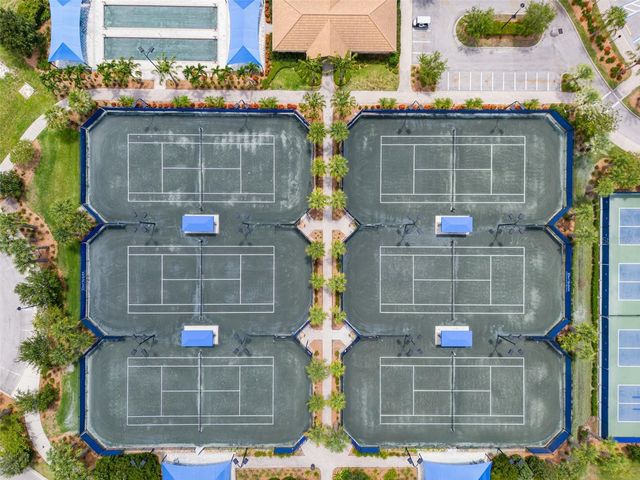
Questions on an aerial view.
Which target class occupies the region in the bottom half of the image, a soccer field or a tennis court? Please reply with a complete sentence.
You can see a tennis court in the bottom half of the image.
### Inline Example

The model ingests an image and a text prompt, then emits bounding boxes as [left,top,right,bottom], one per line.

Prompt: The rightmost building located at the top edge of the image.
[273,0,396,64]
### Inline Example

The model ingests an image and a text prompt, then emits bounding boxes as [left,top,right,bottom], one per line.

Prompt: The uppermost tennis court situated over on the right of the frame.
[344,111,566,225]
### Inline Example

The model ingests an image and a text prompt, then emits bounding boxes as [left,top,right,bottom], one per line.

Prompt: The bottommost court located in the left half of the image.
[86,336,312,449]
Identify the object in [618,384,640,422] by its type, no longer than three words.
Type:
sports court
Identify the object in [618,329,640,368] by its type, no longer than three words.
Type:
sports court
